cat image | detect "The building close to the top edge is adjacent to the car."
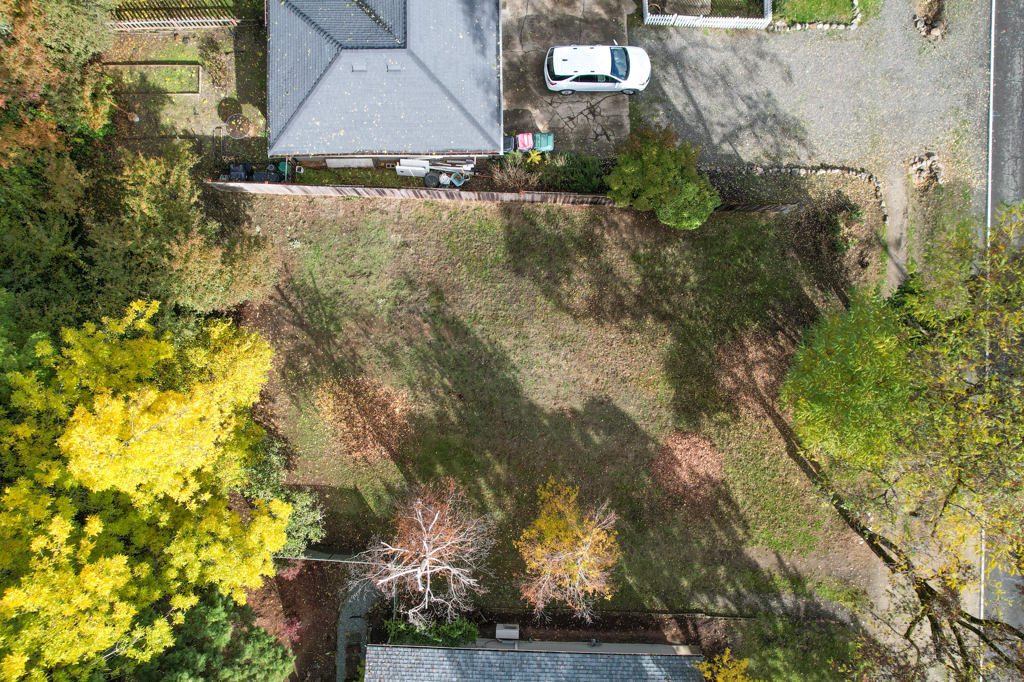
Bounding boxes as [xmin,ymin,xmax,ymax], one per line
[264,0,505,160]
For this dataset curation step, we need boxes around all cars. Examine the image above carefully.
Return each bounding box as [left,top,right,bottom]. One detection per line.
[544,39,652,97]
